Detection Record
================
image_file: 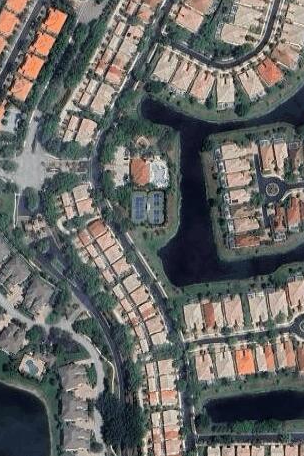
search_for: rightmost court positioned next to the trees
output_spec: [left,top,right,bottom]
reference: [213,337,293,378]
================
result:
[149,190,164,224]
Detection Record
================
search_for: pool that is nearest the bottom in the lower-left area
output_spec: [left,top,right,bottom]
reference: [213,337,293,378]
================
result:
[20,355,45,380]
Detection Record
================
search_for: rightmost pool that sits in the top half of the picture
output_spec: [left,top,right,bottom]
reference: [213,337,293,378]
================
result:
[150,159,169,188]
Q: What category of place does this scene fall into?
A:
residential area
